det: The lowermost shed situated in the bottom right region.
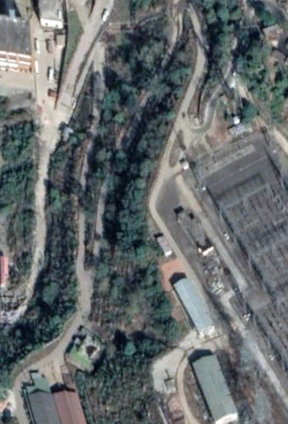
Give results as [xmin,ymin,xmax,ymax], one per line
[188,356,238,424]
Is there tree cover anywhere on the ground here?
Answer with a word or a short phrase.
Yes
